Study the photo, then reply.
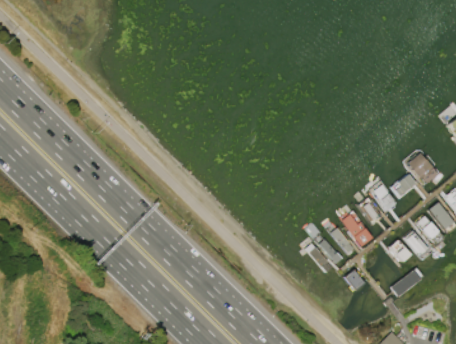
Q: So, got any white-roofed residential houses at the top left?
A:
No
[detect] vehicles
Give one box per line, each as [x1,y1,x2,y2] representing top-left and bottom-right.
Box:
[436,332,442,342]
[422,330,428,338]
[46,128,55,136]
[36,104,44,113]
[0,159,8,169]
[247,312,256,320]
[224,302,233,310]
[414,326,419,334]
[92,161,100,170]
[141,198,150,207]
[191,248,200,256]
[184,310,195,320]
[60,178,70,188]
[74,164,82,172]
[63,133,72,142]
[258,333,266,342]
[206,270,214,278]
[46,186,56,196]
[16,99,25,108]
[429,331,434,340]
[91,171,100,180]
[110,176,120,186]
